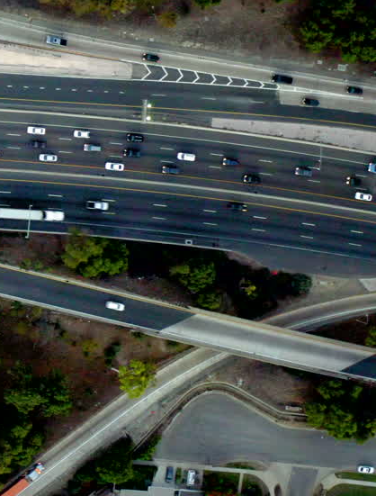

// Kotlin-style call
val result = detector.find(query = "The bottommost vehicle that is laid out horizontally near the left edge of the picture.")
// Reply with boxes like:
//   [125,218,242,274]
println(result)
[0,208,64,222]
